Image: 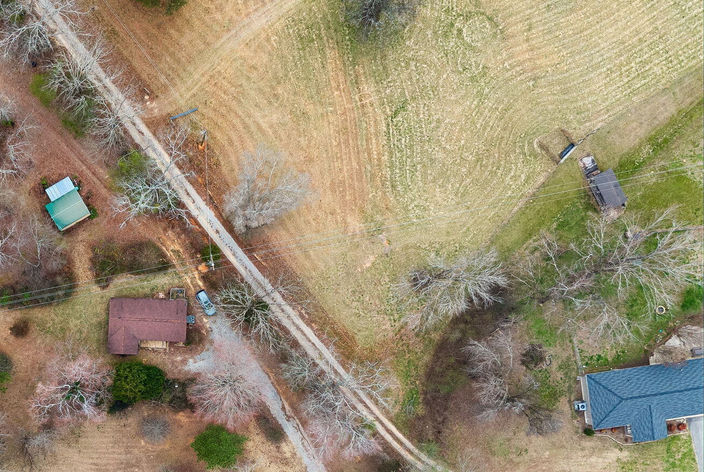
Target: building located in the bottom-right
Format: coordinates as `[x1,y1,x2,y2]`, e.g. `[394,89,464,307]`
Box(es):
[580,359,704,442]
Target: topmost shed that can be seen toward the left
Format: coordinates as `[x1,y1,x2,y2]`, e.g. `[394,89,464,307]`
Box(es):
[40,178,90,231]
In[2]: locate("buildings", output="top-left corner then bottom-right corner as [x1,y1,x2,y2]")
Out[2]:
[580,168,626,212]
[580,359,704,442]
[40,178,90,231]
[108,298,188,356]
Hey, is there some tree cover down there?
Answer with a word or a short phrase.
Yes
